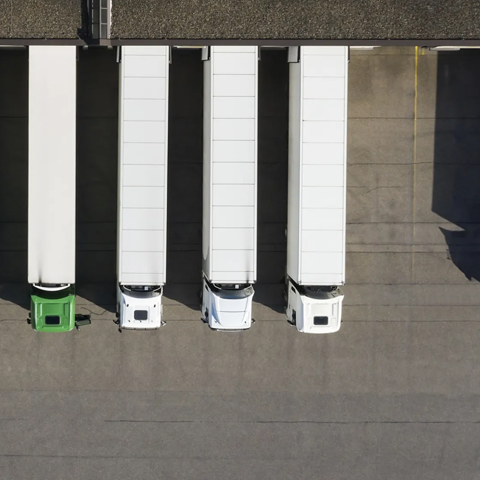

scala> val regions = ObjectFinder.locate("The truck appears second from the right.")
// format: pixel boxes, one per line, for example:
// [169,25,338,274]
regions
[197,45,261,333]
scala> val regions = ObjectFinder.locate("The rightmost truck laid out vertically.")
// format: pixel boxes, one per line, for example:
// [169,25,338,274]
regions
[281,45,350,334]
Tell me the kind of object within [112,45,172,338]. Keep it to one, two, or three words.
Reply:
truck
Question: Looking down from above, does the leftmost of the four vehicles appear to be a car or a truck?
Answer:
truck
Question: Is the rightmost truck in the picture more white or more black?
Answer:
white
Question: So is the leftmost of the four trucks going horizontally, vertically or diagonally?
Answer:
vertically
